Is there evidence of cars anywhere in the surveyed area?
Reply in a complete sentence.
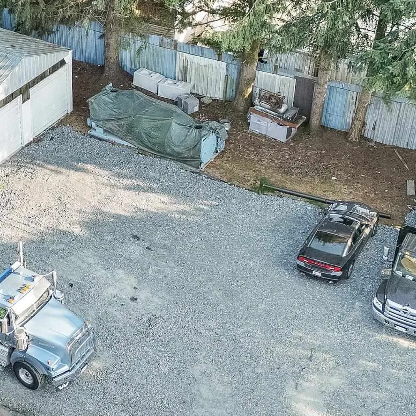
Yes, there's a car down there.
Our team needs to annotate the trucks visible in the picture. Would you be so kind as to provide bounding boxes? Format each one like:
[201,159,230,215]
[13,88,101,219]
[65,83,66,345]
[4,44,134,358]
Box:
[375,226,416,338]
[0,232,102,394]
